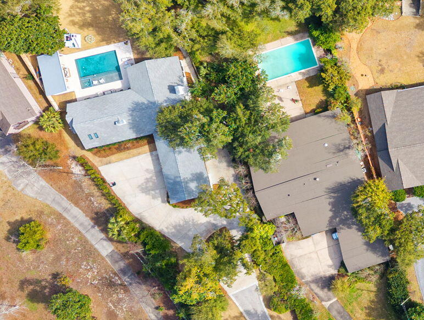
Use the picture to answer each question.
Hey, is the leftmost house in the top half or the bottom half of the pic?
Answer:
top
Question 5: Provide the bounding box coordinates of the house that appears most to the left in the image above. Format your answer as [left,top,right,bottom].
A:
[0,53,41,136]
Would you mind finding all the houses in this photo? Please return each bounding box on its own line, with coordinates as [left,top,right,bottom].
[248,108,391,273]
[66,56,213,204]
[367,85,424,190]
[0,53,41,136]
